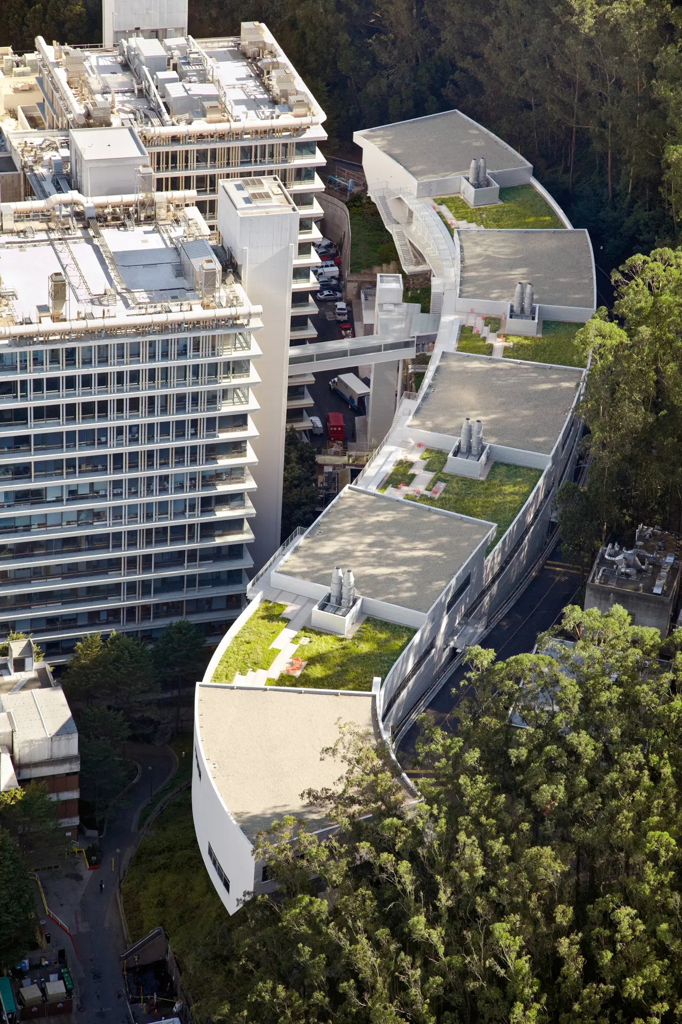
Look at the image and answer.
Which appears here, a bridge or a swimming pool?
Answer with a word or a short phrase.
bridge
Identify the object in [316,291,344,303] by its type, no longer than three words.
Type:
vehicle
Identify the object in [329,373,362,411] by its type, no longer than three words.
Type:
truck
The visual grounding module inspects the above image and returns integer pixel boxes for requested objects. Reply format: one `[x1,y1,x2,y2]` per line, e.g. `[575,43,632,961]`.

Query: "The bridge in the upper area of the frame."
[291,327,417,376]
